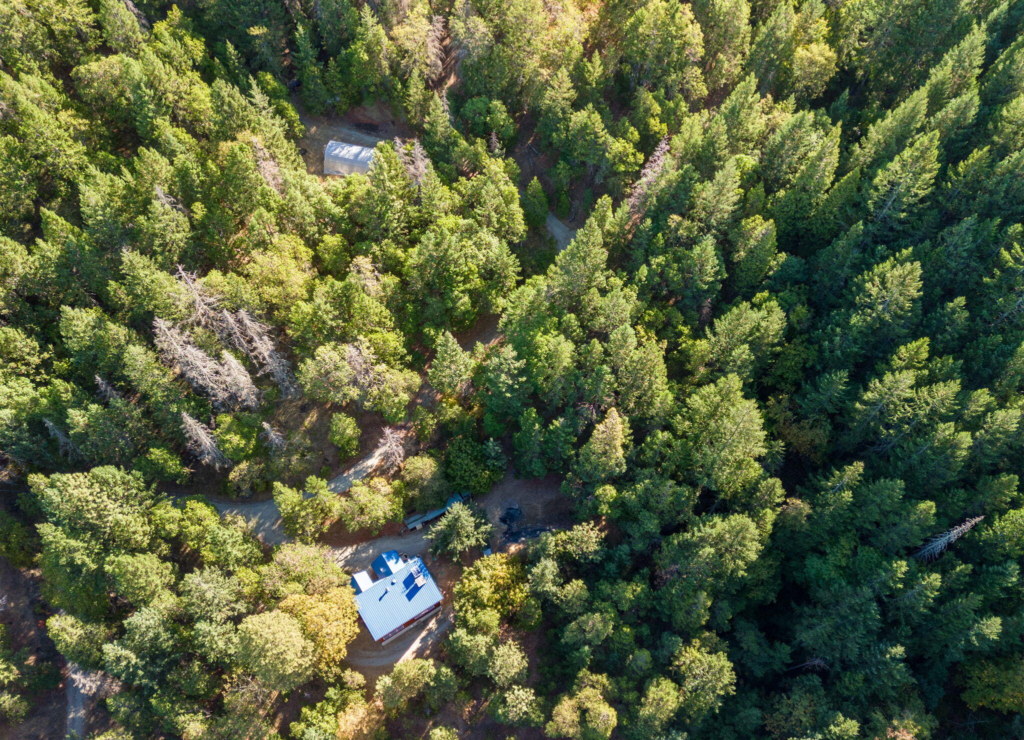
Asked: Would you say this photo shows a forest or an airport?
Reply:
forest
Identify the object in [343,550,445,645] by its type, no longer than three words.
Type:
house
